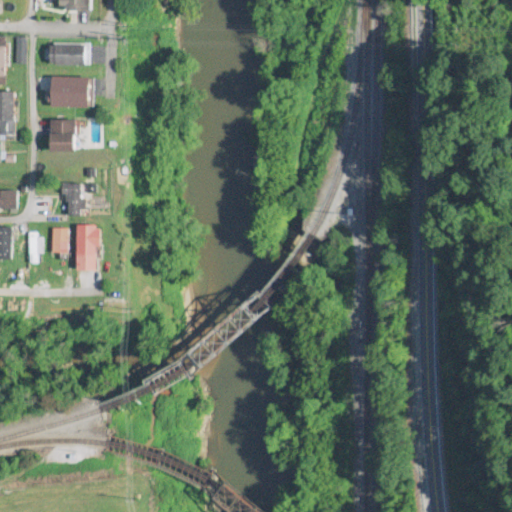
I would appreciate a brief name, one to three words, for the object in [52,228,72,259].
building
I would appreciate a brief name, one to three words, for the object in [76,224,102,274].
house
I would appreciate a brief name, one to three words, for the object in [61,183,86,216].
house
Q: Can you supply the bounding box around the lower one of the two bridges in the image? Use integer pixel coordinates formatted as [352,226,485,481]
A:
[102,434,268,512]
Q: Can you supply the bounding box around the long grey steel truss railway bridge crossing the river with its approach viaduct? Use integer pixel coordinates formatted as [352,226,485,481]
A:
[94,230,321,420]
